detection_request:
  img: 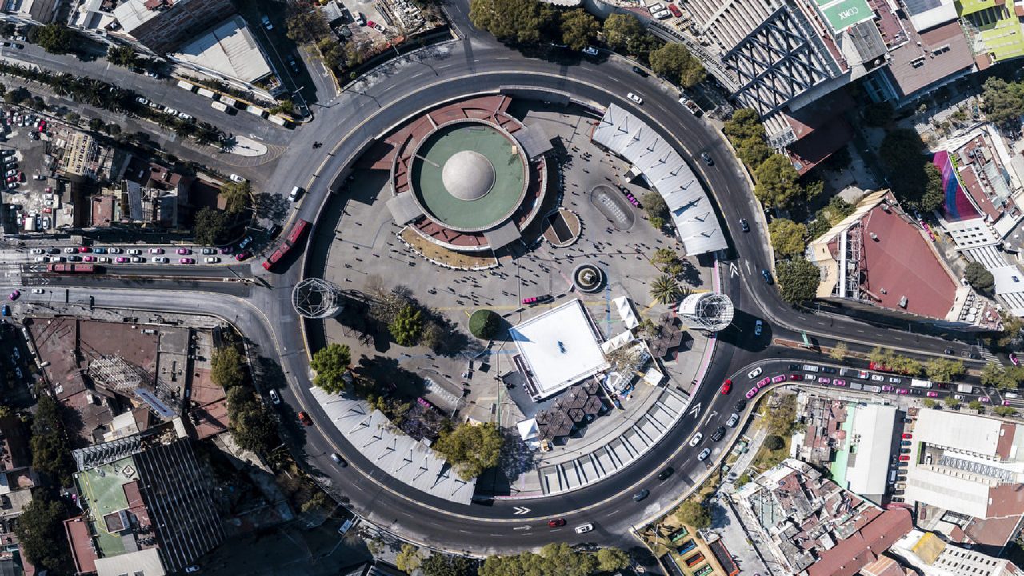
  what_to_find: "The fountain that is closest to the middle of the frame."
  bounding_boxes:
[569,259,601,292]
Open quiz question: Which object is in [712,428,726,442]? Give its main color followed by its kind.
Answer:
black car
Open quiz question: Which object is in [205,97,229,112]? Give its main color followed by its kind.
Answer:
white vehicle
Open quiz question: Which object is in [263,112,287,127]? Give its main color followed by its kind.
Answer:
white vehicle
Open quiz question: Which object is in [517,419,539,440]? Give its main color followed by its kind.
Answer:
white tent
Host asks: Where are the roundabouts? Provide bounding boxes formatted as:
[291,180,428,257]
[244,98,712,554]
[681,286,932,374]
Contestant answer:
[242,34,778,560]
